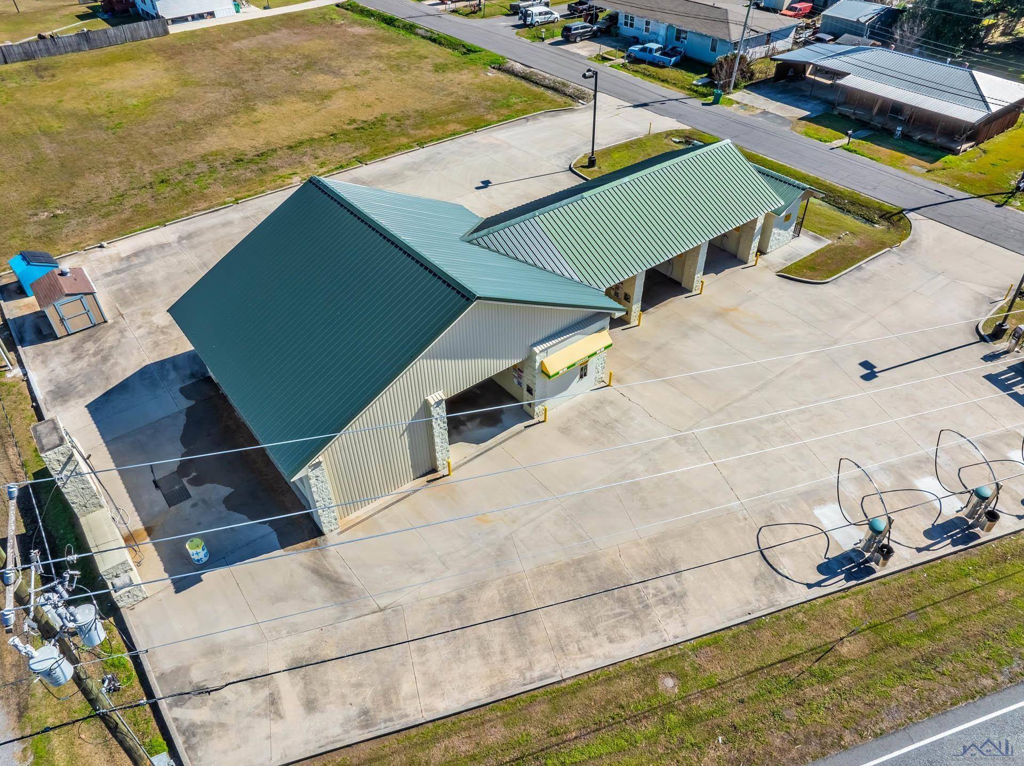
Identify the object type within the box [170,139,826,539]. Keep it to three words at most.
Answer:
building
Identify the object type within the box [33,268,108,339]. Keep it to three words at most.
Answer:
shed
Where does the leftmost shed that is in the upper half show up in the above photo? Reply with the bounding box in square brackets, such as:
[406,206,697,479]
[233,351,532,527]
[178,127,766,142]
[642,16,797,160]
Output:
[1,243,56,298]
